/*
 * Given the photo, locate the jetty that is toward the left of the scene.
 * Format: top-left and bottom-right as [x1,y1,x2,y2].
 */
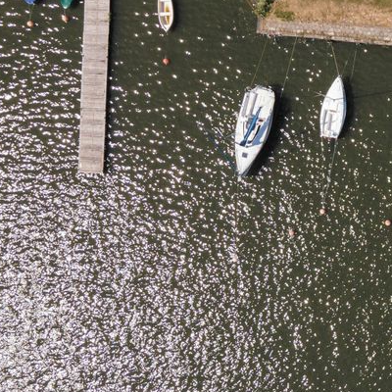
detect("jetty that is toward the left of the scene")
[78,0,111,175]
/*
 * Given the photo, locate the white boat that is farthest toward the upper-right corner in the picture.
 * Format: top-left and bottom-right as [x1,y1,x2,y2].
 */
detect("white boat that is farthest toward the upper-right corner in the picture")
[316,75,346,142]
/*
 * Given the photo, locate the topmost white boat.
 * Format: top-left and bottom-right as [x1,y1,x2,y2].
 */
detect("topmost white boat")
[156,0,174,33]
